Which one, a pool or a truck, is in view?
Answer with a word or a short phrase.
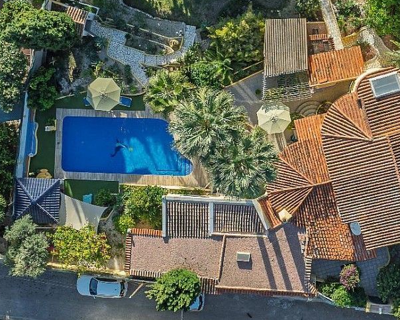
pool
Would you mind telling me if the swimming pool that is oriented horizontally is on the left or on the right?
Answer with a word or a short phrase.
left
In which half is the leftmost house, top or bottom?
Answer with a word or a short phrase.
top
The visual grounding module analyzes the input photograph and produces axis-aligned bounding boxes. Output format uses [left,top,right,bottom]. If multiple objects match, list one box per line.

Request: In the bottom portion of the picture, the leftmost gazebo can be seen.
[12,177,67,225]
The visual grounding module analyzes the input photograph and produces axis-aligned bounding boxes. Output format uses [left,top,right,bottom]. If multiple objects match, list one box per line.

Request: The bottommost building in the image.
[122,221,322,304]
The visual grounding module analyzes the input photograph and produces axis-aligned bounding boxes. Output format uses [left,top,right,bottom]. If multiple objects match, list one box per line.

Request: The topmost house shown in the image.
[66,6,96,38]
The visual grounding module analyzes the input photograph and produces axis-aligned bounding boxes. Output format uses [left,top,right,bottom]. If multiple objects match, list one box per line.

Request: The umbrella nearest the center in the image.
[257,102,292,136]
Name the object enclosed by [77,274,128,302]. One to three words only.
car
